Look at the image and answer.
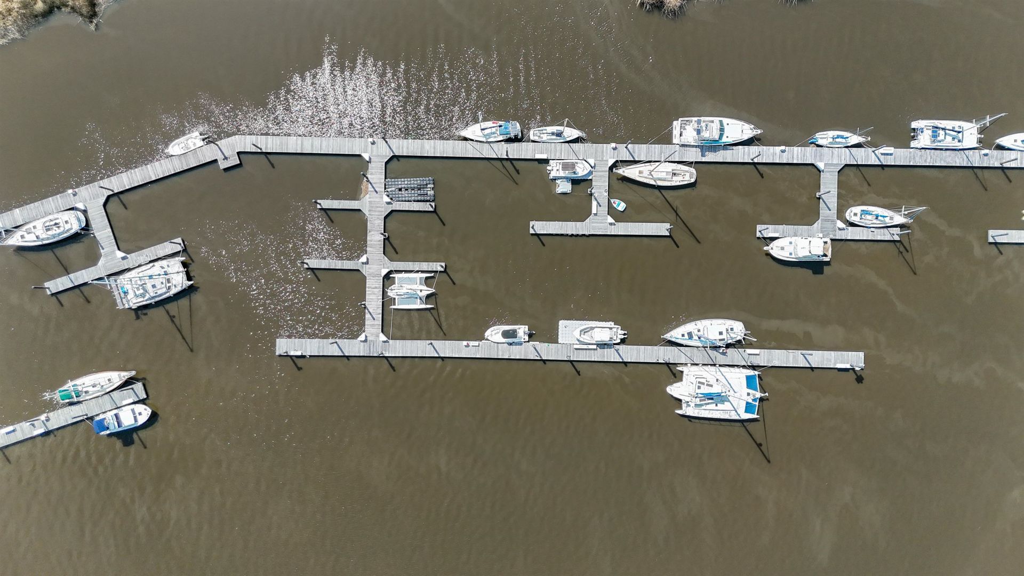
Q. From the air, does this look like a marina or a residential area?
marina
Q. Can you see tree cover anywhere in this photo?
No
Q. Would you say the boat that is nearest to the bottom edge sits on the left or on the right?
left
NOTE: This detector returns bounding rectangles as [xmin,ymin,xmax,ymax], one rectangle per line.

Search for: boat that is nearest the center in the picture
[485,326,532,343]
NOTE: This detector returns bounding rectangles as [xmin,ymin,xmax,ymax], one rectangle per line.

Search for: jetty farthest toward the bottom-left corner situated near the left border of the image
[0,382,148,447]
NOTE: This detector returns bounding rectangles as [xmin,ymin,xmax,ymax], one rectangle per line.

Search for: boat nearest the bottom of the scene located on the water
[93,405,153,435]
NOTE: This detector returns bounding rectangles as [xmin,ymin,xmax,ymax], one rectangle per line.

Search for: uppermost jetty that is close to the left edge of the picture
[0,136,242,232]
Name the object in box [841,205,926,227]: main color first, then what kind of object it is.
white boat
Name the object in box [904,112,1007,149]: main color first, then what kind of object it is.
white boat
